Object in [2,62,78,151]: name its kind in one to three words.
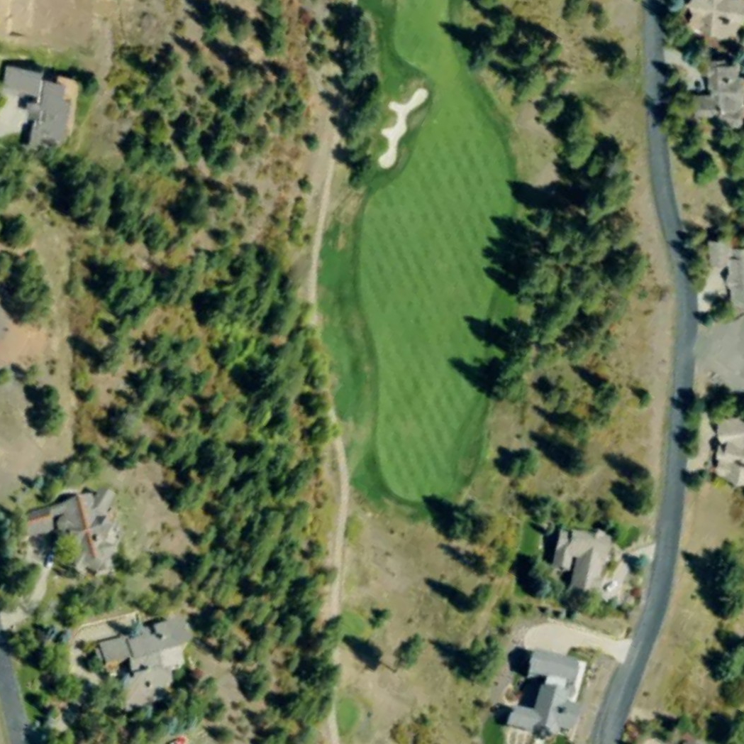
house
